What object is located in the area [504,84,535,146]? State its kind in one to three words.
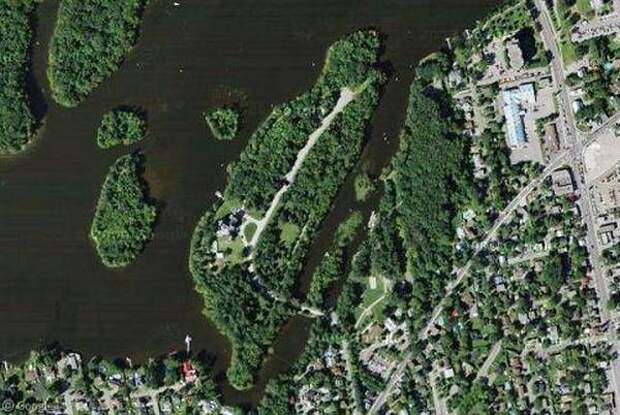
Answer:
building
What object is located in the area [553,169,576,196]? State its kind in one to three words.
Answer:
building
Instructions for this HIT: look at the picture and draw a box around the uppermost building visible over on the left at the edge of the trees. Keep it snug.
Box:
[215,207,243,238]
